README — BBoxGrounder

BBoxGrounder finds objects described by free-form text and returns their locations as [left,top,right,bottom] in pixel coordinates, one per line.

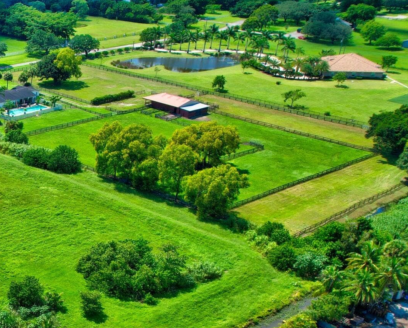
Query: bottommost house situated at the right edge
[303,48,403,76]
